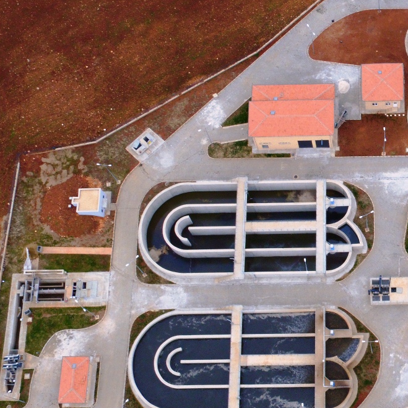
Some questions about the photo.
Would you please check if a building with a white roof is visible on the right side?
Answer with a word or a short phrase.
No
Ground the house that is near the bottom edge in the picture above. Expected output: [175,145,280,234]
[58,356,100,408]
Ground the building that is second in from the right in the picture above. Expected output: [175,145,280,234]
[247,83,338,158]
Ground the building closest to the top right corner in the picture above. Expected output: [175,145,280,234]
[361,63,405,113]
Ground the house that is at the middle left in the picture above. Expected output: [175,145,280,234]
[71,189,112,218]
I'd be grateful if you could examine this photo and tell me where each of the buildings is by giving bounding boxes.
[58,356,100,408]
[247,83,338,158]
[71,189,112,218]
[361,63,405,113]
